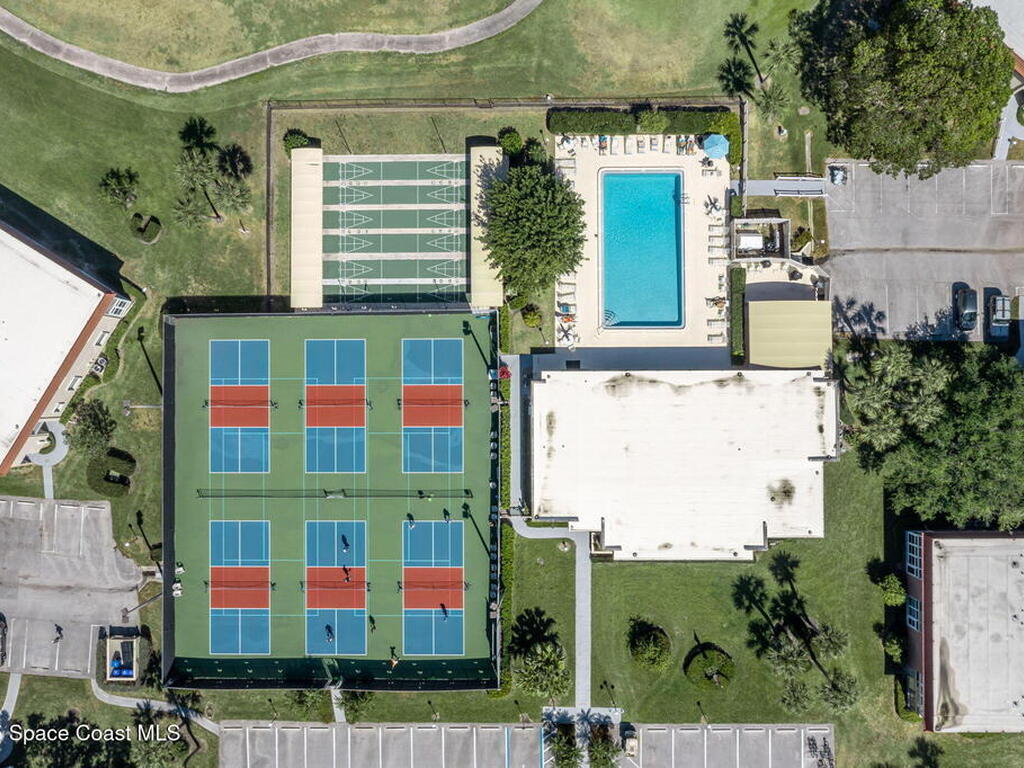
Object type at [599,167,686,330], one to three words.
swimming pool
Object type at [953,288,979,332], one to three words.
car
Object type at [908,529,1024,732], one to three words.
building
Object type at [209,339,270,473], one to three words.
sports court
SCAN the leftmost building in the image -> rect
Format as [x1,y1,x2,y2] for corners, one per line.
[0,212,134,518]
